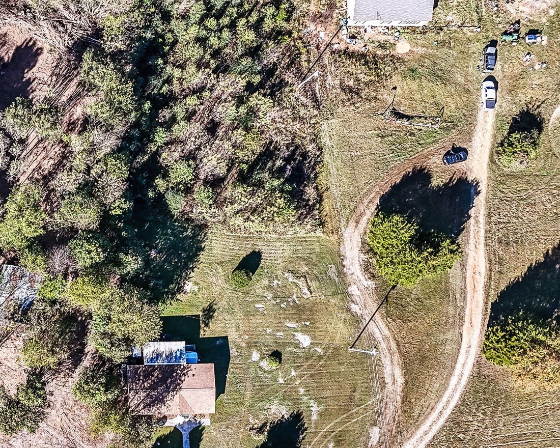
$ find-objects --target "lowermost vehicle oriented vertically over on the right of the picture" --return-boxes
[480,78,496,112]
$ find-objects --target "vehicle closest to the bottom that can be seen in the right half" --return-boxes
[440,146,467,166]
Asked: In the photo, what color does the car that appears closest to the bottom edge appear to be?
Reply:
blue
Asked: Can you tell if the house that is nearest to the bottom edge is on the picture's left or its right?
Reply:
left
